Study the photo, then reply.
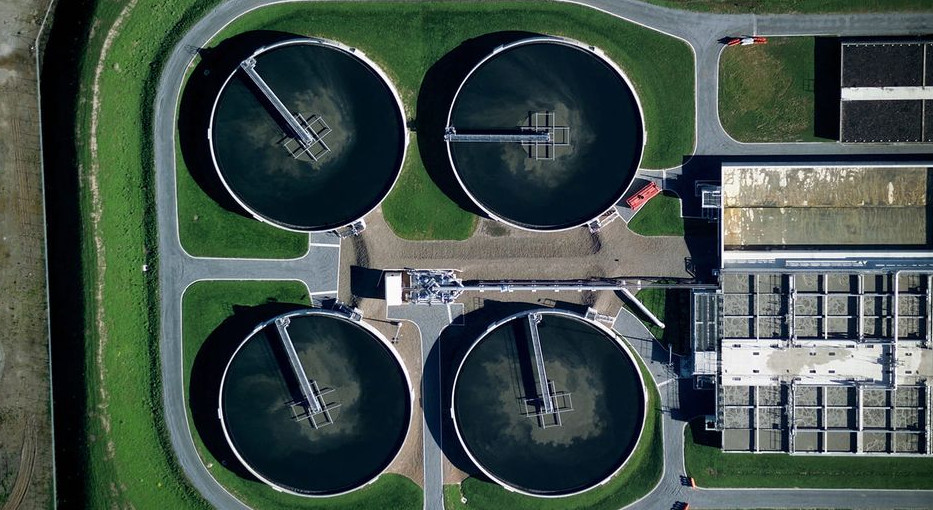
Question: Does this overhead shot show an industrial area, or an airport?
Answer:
industrial area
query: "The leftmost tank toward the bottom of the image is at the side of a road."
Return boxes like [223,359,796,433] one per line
[217,303,416,497]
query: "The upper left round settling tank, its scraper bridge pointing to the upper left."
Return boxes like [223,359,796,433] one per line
[208,34,411,233]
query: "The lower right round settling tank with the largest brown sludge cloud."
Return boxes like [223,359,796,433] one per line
[450,302,650,497]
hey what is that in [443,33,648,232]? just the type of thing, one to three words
storage tank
